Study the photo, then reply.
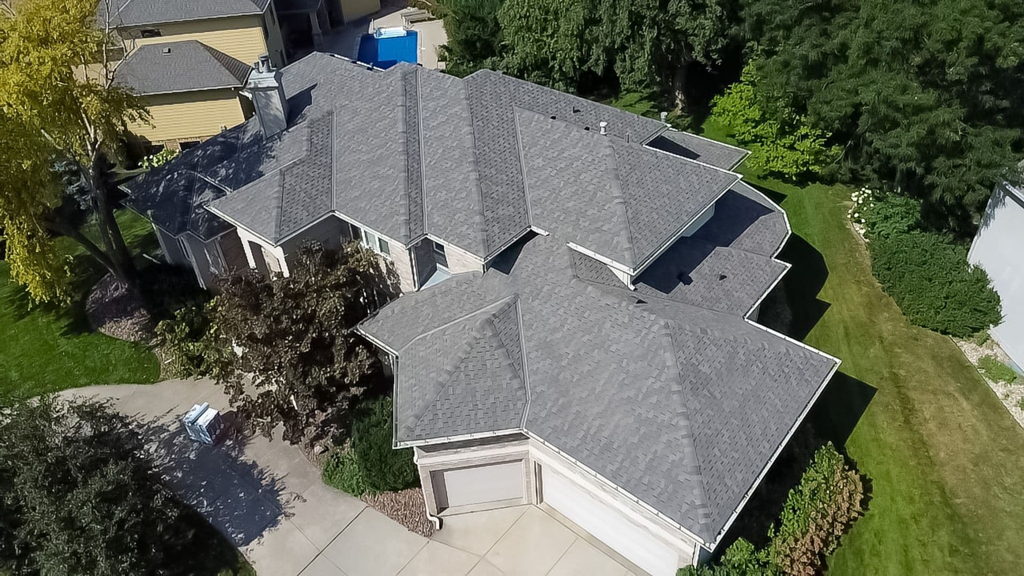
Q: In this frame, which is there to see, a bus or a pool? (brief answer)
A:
pool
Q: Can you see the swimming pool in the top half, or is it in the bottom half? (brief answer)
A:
top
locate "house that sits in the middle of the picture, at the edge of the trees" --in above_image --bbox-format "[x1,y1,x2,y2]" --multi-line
[120,49,840,576]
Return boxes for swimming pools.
[348,26,425,64]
